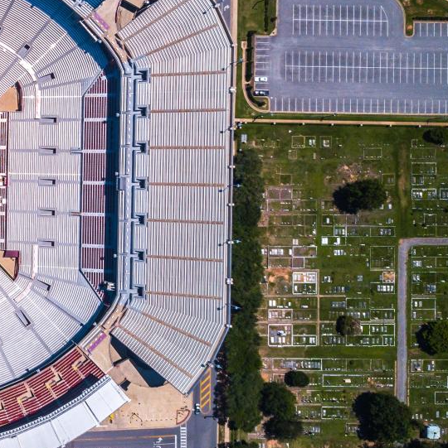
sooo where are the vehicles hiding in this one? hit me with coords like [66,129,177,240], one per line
[253,89,270,96]
[194,402,200,415]
[254,76,267,82]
